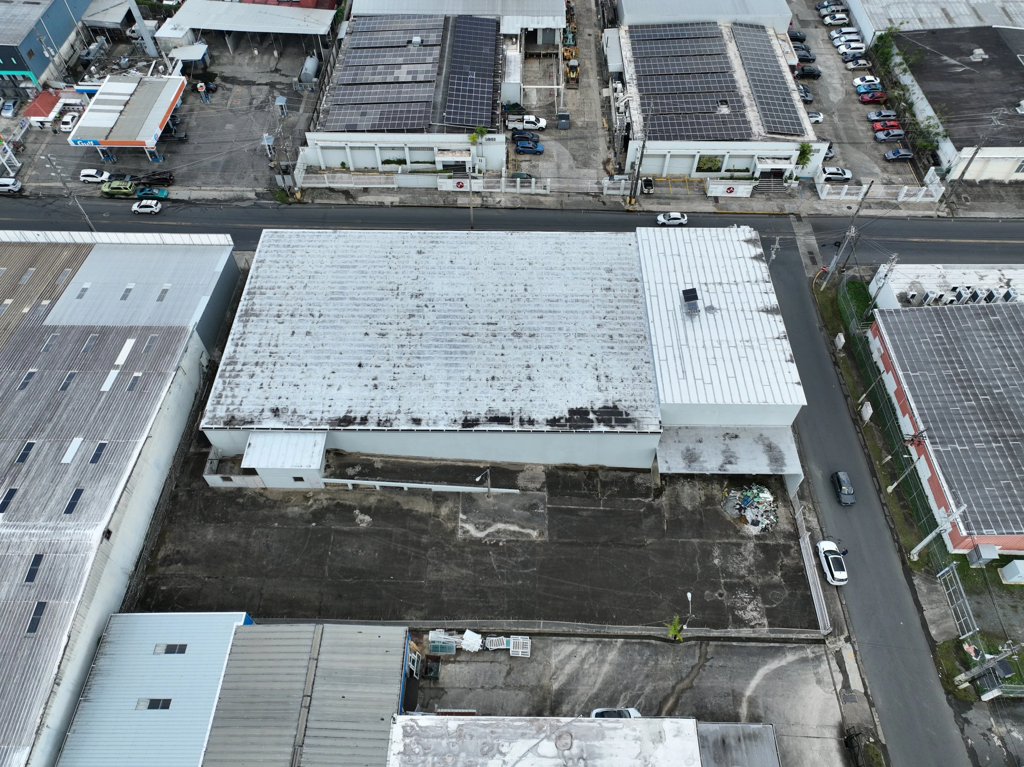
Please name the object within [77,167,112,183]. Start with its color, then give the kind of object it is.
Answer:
white car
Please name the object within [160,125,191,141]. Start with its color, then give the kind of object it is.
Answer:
black car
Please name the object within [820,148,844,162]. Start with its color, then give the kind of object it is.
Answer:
gray car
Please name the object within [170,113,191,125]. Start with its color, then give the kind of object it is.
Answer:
black vehicle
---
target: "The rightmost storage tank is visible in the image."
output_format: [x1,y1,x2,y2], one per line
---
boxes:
[293,49,328,87]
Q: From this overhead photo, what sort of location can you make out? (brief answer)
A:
industrial area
